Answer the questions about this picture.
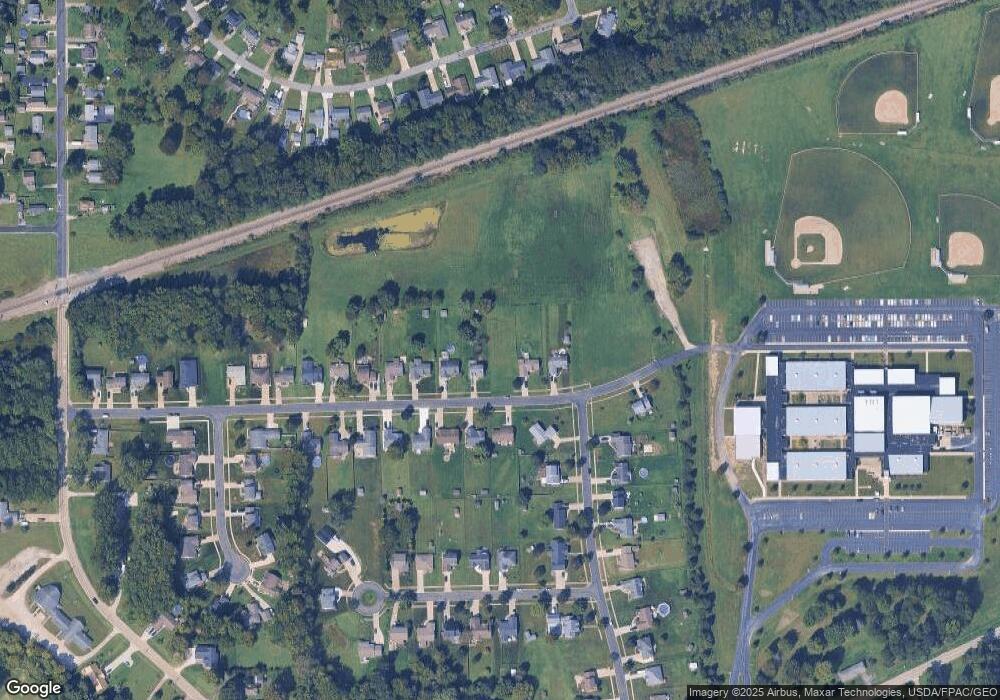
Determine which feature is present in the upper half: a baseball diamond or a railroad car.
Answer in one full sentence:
The one visible in the upper half is a baseball diamond.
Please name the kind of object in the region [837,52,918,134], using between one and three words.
baseball field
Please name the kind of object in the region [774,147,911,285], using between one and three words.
baseball field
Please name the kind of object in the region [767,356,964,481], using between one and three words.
building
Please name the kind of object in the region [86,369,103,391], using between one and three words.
house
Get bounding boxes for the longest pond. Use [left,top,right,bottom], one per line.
[324,201,448,259]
